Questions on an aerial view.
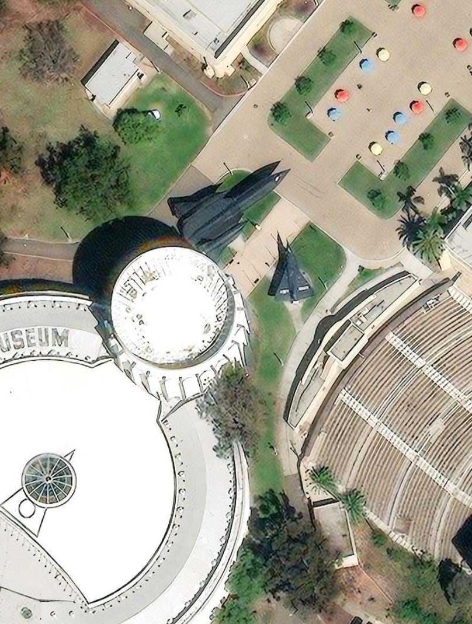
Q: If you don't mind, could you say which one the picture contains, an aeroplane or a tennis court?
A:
aeroplane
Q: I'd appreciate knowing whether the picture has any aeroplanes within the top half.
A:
Yes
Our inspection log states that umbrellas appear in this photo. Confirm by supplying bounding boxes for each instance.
[411,102,423,114]
[418,82,431,95]
[377,48,390,61]
[413,4,425,16]
[393,112,405,125]
[336,89,348,102]
[454,38,467,50]
[327,107,339,120]
[370,142,383,154]
[388,131,400,143]
[360,59,372,71]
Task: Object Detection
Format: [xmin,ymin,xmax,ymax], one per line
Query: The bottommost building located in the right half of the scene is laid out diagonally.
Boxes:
[286,275,422,444]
